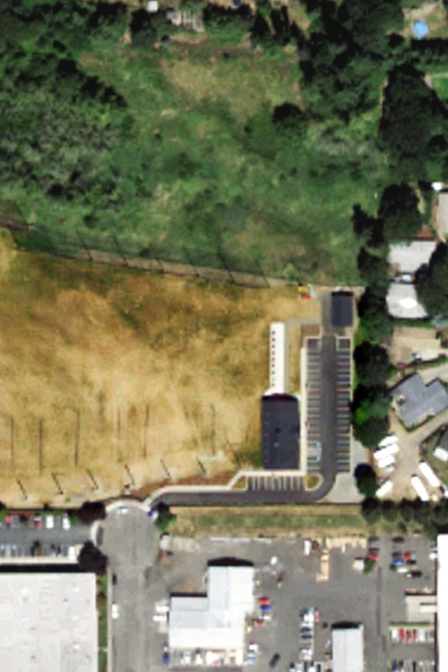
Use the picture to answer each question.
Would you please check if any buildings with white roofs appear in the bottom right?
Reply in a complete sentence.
Yes, in the bottom right there is a building with a white roof.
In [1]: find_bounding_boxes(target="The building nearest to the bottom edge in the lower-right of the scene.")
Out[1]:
[332,628,364,672]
